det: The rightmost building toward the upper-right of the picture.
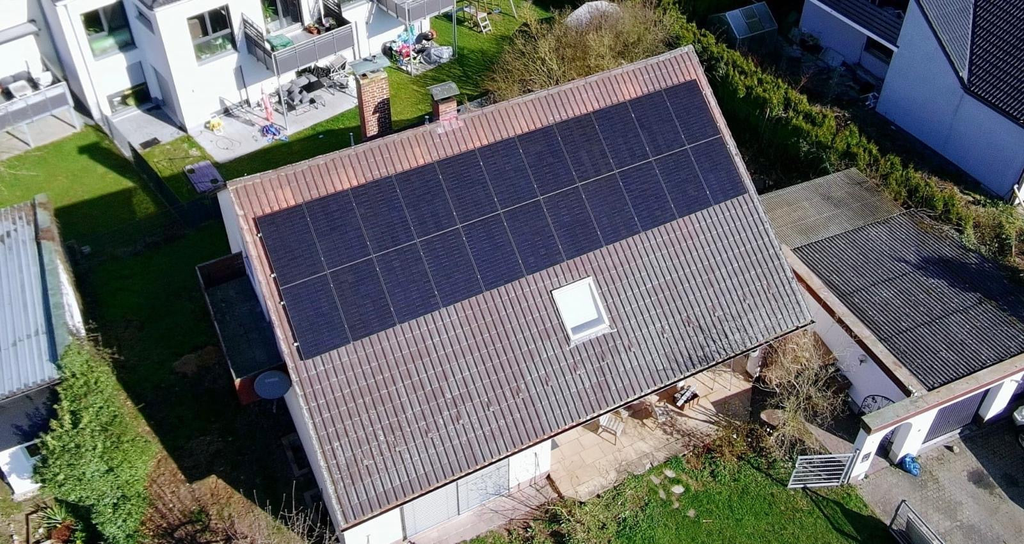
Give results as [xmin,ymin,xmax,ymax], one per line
[877,0,1024,199]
